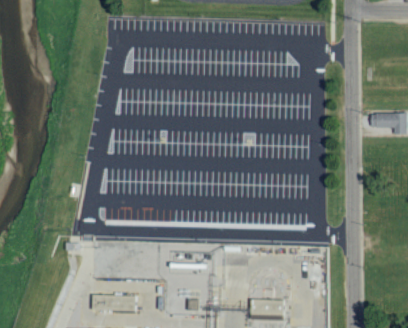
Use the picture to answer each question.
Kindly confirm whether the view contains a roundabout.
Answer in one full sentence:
No, I can't see a single roundabout in this photo.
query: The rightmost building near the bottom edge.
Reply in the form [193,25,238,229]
[251,300,286,320]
